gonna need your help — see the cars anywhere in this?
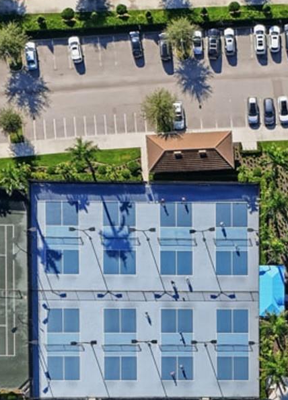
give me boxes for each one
[158,33,172,62]
[172,101,186,131]
[283,22,288,55]
[223,27,236,57]
[128,27,144,63]
[252,25,266,55]
[277,94,288,125]
[263,97,276,127]
[67,36,83,66]
[268,25,282,55]
[24,42,39,71]
[206,30,220,59]
[247,96,261,126]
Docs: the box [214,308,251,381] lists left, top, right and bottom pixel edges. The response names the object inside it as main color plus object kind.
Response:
blue sports court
